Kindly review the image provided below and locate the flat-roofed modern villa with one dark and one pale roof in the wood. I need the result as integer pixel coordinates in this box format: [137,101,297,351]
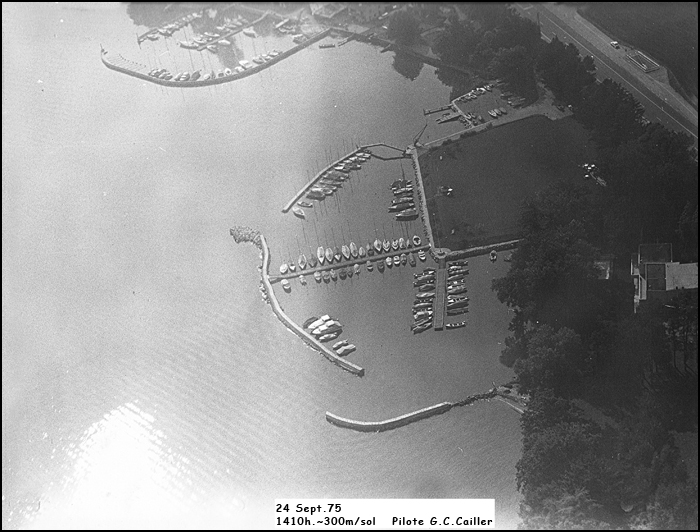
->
[631,243,700,308]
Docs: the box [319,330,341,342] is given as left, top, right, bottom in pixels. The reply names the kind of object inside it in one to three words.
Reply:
boat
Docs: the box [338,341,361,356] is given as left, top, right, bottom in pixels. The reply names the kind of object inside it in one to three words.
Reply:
boat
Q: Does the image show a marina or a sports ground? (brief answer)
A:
marina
